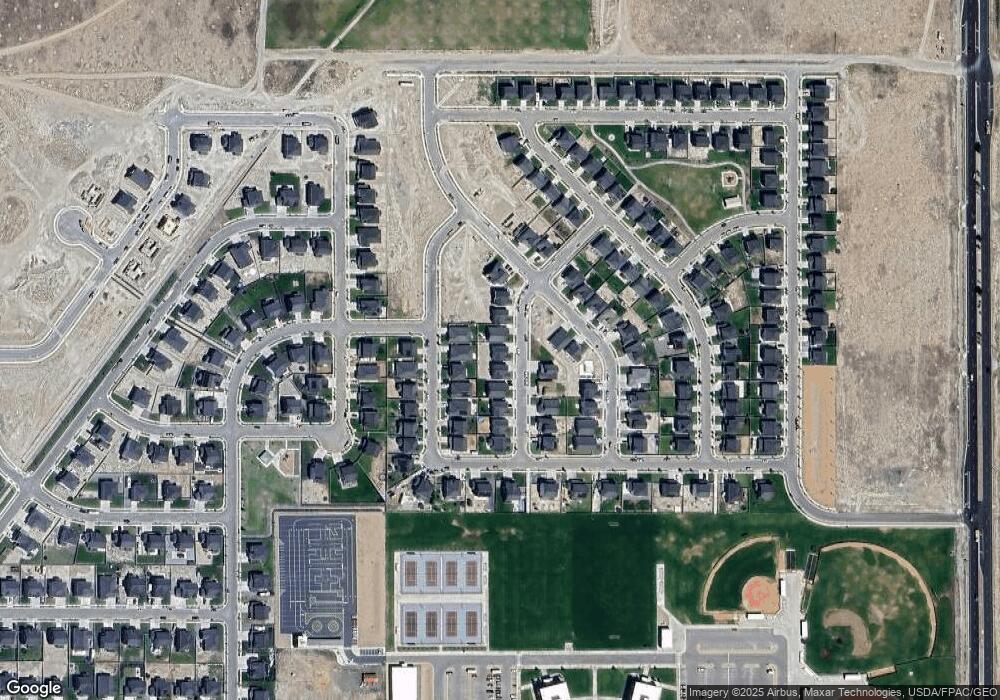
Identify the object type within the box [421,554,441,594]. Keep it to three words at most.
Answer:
tennis court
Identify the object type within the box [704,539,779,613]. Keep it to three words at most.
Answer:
baseball field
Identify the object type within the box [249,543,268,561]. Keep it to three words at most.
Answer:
house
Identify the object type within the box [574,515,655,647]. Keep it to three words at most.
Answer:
soccer field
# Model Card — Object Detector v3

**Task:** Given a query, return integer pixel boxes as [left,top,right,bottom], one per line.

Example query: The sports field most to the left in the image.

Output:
[489,515,573,647]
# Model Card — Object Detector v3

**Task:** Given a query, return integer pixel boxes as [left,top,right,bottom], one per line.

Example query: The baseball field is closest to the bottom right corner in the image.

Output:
[807,544,934,673]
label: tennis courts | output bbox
[462,603,481,643]
[400,603,421,643]
[421,603,441,643]
[400,554,421,594]
[421,554,441,594]
[442,603,462,643]
[462,554,481,594]
[441,554,462,594]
